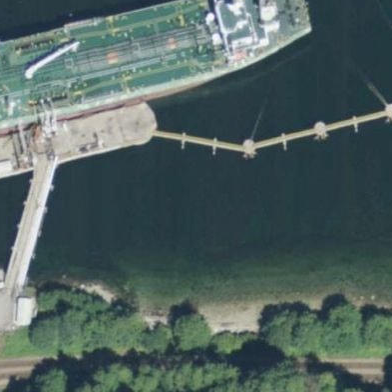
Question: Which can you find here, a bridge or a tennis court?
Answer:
bridge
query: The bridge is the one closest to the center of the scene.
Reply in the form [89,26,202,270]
[156,129,244,154]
